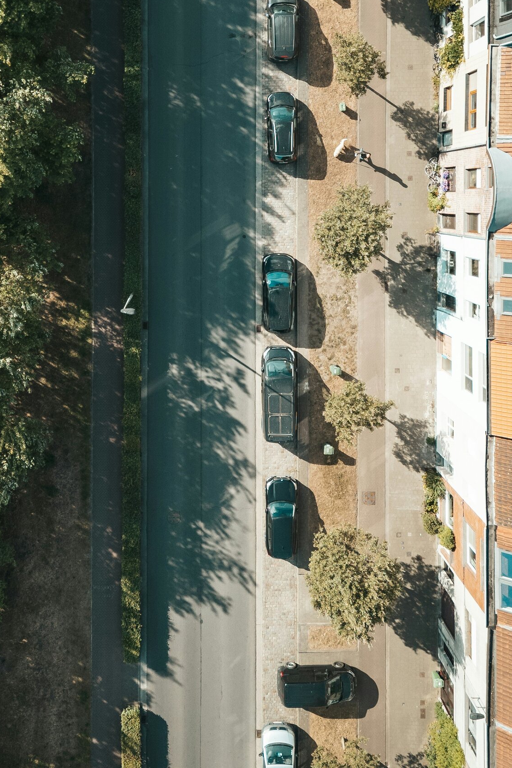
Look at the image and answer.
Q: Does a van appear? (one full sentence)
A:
Yes, the picture does show a van.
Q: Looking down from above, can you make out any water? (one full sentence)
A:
No, no water is visible.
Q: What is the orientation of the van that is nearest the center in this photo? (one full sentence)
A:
In this picture, the van that is nearest the center is oriented up and down.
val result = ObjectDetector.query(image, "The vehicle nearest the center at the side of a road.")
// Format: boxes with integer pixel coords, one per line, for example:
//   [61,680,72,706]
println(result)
[259,345,300,441]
